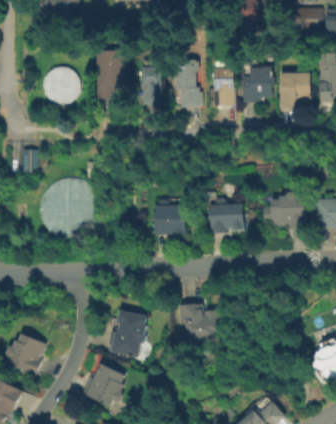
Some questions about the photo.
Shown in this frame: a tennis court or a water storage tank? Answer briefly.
water storage tank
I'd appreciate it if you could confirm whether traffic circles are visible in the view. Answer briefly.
No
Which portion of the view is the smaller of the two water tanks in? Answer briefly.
top left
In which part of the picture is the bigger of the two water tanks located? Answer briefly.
left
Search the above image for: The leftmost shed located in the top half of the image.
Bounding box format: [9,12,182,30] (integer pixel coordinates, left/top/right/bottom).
[23,147,39,174]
